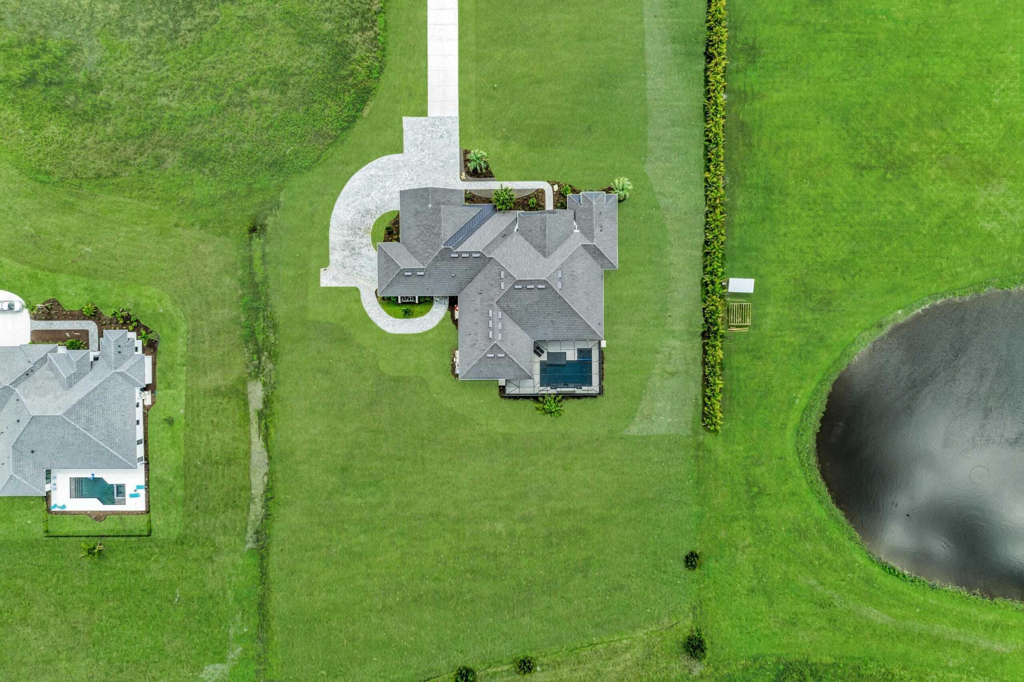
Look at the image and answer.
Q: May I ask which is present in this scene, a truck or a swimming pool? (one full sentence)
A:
Visible in the photo is a swimming pool.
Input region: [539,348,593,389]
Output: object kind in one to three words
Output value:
swimming pool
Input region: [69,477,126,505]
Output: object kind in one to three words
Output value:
swimming pool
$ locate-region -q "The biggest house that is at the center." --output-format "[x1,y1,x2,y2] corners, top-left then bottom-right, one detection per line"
[377,187,618,380]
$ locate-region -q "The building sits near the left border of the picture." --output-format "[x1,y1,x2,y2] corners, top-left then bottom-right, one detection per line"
[0,330,152,496]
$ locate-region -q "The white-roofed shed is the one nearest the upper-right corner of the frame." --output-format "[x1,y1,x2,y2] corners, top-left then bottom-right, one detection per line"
[726,278,754,293]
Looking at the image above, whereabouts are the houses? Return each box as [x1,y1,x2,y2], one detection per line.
[0,330,152,496]
[377,187,618,380]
